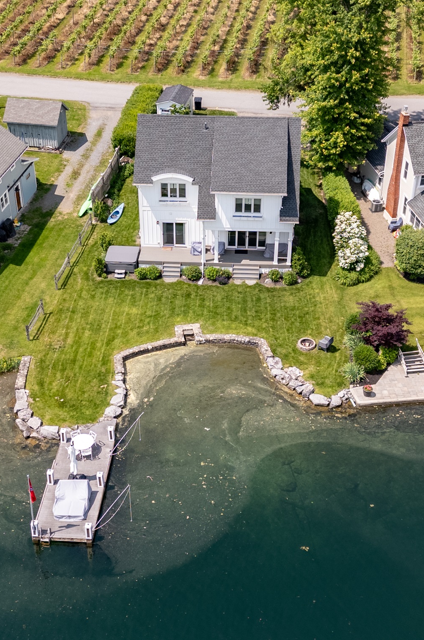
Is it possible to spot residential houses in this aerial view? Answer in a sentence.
Yes, this view includes a residential house.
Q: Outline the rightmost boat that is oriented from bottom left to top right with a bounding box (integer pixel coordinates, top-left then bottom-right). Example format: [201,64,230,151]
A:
[107,201,123,219]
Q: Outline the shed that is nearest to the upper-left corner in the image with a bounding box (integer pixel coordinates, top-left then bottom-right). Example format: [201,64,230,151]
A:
[0,97,74,151]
